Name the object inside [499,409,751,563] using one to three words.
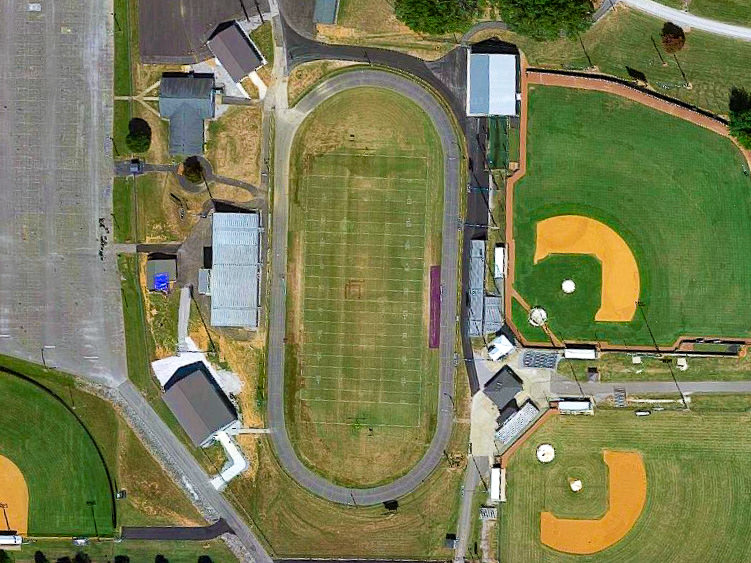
baseball field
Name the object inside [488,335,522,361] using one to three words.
building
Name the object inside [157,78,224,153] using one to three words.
building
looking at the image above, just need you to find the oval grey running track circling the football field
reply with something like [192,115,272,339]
[267,72,461,505]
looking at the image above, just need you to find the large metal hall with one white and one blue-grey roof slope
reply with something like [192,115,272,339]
[470,54,522,114]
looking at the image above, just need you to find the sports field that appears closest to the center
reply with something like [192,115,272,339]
[284,87,444,489]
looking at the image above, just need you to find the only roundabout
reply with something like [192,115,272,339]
[176,155,214,192]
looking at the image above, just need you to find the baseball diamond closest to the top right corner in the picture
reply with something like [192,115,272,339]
[505,48,751,359]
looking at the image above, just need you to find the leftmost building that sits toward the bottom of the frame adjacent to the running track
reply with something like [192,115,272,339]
[162,369,242,446]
